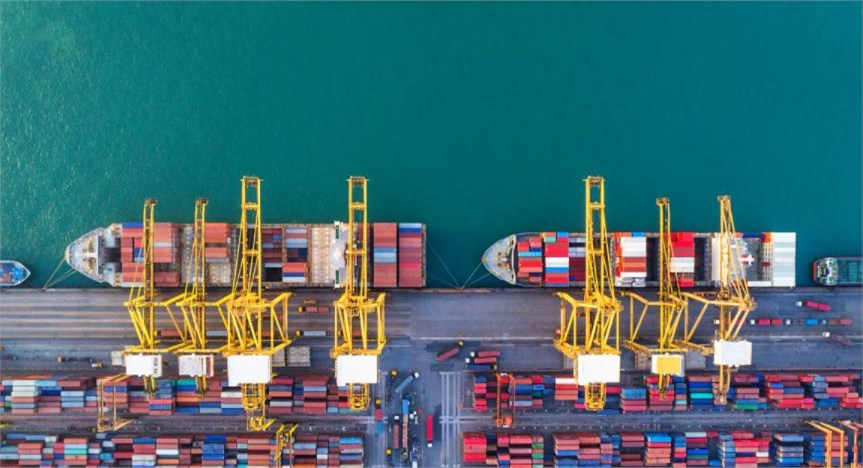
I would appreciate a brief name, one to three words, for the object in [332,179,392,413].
container crane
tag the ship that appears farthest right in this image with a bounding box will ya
[806,257,863,286]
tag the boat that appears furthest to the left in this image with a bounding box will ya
[0,261,35,285]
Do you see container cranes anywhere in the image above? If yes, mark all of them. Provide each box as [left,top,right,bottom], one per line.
[680,196,754,406]
[246,373,279,432]
[799,418,845,468]
[121,200,188,393]
[620,200,689,395]
[823,418,863,468]
[173,200,237,395]
[332,179,392,413]
[490,368,517,431]
[225,179,296,412]
[554,179,624,413]
[276,420,306,468]
[99,372,139,432]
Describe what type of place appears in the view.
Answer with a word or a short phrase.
port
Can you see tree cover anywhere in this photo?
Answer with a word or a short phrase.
No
